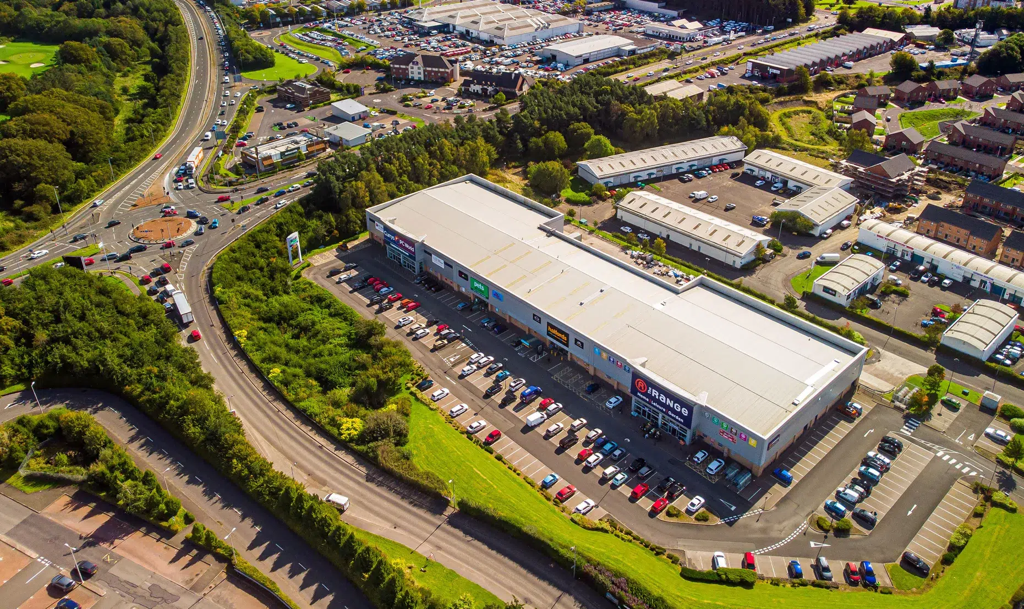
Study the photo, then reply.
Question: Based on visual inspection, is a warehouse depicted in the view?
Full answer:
Yes, there's a warehouse here.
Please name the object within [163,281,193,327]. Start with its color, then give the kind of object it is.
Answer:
white truck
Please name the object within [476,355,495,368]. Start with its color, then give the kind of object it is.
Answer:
gray vehicle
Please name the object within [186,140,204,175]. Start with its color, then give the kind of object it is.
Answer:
white vehicle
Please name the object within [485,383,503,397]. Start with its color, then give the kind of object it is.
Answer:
black car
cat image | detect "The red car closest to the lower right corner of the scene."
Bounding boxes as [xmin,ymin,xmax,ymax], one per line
[844,563,861,585]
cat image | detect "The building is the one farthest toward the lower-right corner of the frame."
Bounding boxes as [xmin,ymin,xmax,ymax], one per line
[981,382,1004,412]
